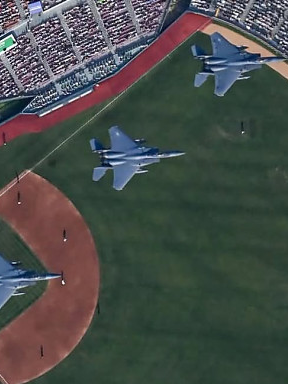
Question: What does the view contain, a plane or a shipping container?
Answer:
plane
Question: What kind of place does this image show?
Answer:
sports ground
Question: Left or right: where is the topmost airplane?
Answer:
right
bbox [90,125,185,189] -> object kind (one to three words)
airplane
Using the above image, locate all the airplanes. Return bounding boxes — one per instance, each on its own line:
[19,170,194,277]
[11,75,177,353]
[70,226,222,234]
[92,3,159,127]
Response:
[191,31,286,96]
[90,125,185,189]
[0,255,62,307]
